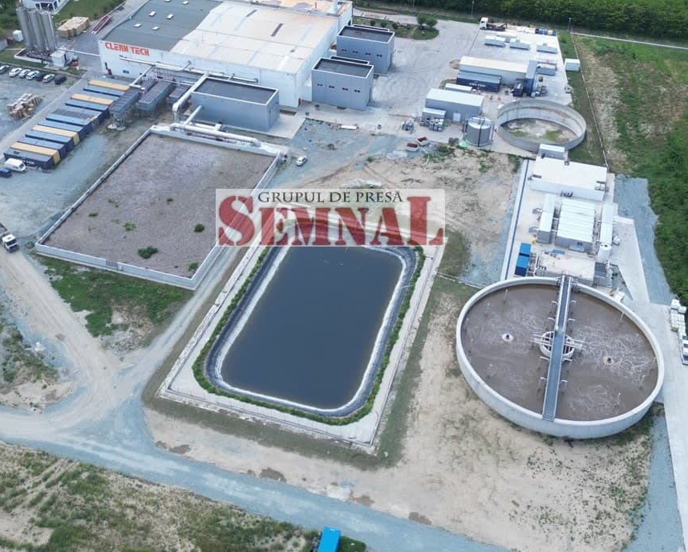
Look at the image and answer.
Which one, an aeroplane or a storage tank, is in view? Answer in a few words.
storage tank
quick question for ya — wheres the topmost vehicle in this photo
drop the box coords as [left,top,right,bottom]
[480,16,505,32]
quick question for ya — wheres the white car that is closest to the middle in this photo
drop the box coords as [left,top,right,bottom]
[293,155,309,167]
